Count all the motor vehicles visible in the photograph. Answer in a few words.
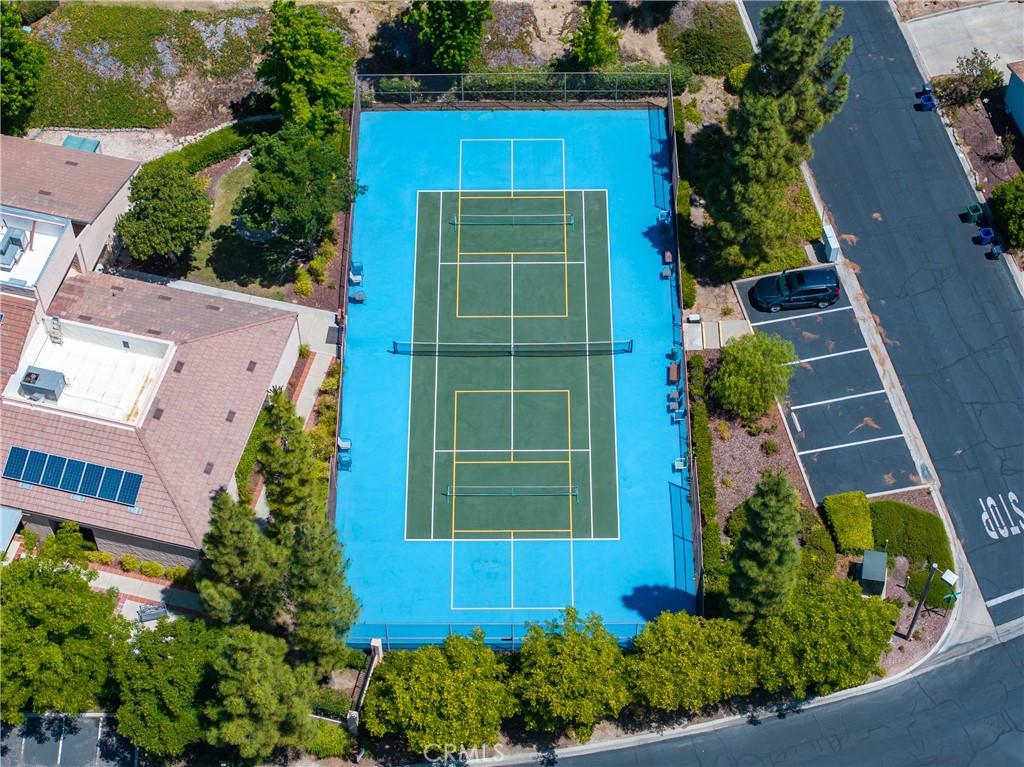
one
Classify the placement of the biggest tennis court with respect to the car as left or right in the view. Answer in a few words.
to the left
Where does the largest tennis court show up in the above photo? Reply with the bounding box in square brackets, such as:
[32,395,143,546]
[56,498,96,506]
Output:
[329,109,697,651]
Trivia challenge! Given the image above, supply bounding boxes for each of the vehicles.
[750,265,843,312]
